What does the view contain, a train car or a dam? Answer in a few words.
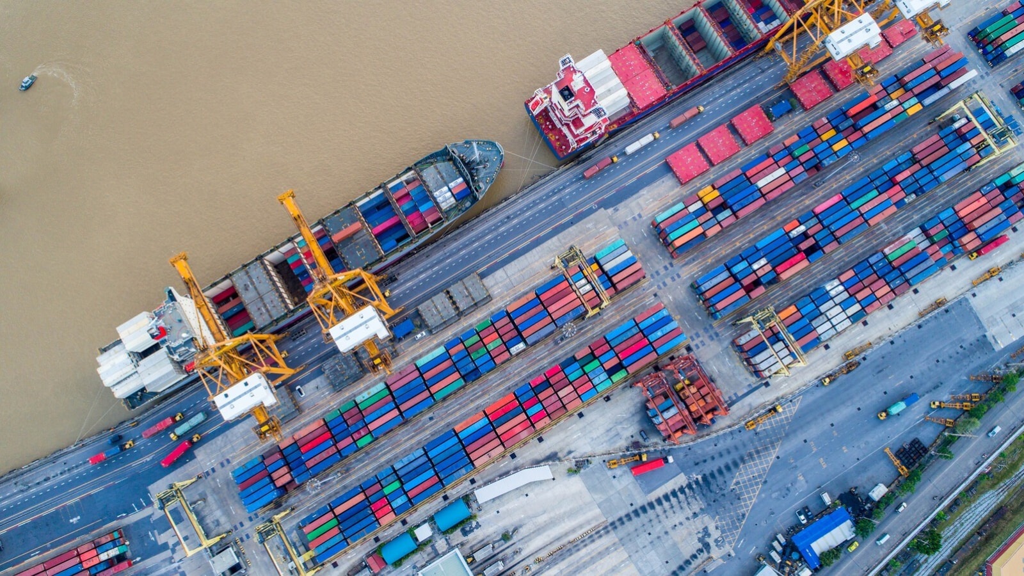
train car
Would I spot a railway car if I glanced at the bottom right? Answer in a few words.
Yes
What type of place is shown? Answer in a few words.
port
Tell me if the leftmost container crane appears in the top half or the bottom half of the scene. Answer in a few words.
bottom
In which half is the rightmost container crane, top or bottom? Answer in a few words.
top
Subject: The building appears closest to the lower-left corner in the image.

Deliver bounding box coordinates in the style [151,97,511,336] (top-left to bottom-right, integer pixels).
[210,541,250,576]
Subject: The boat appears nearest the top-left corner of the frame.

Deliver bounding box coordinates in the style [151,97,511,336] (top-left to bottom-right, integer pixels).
[18,74,40,92]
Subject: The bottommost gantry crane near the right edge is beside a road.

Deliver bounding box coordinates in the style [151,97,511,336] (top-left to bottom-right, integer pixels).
[925,94,1019,180]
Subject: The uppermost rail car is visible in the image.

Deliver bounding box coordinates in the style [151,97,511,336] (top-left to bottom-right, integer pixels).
[978,505,1010,535]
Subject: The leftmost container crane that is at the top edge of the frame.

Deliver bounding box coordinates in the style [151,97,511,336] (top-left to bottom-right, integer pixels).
[749,0,880,95]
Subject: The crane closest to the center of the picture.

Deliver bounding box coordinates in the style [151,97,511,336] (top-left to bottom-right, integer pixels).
[548,246,610,325]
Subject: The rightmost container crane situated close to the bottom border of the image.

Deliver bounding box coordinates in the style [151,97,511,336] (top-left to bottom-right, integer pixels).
[255,502,331,576]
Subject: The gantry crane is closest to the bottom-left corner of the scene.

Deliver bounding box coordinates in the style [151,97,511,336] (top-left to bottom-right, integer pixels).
[155,470,238,556]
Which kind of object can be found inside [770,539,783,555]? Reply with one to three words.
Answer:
vehicle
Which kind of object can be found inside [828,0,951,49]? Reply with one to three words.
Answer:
container crane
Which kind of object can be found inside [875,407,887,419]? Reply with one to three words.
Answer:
vehicle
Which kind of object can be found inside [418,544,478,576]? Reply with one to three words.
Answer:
building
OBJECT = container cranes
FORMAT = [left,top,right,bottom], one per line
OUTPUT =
[925,94,1019,180]
[828,0,951,49]
[255,502,331,576]
[626,370,697,446]
[655,352,729,426]
[749,0,880,95]
[548,246,610,325]
[727,305,807,382]
[276,189,407,378]
[155,470,238,556]
[167,251,310,444]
